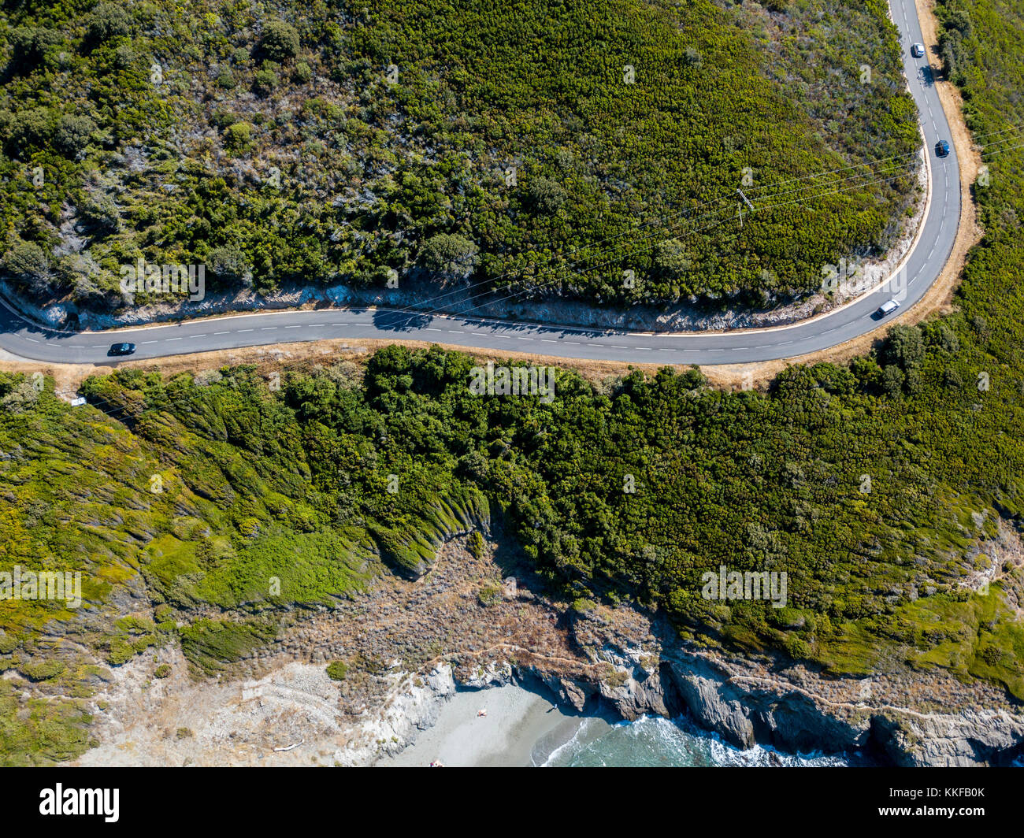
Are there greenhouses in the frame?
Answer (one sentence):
No, there isn't any greenhouse down there.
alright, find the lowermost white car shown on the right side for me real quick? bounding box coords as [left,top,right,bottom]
[877,300,899,316]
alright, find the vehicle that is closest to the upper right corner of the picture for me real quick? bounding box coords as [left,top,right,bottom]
[913,43,925,58]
